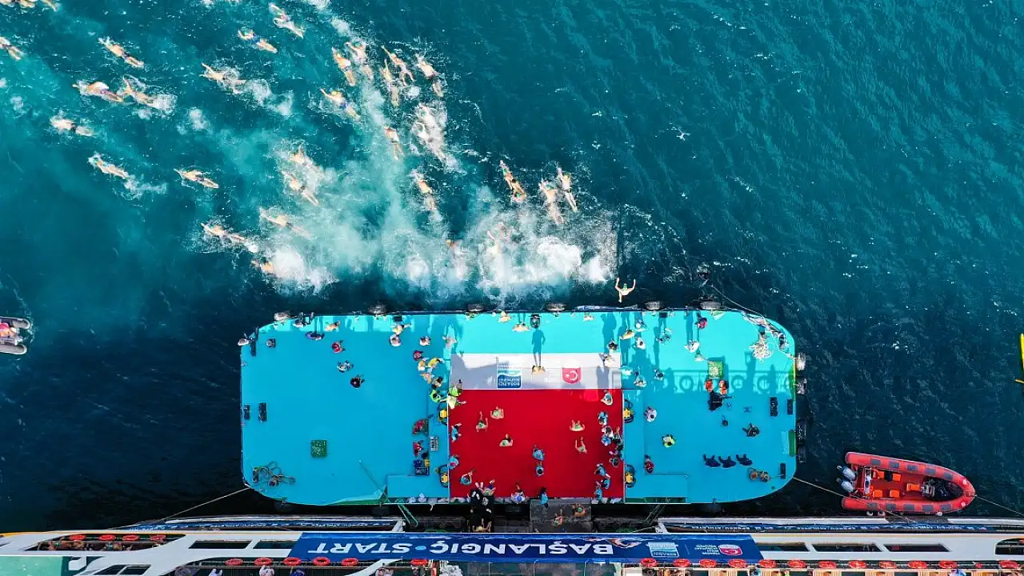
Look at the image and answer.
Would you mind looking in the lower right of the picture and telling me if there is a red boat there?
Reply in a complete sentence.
Yes, in the lower right of the picture there is a red boat.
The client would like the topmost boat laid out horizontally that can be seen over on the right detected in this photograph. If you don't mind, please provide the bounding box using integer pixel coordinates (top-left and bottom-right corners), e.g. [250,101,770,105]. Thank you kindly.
[830,452,978,510]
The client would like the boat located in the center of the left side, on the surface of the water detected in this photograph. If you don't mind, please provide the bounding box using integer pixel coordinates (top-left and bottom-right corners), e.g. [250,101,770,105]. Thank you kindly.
[0,314,36,355]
